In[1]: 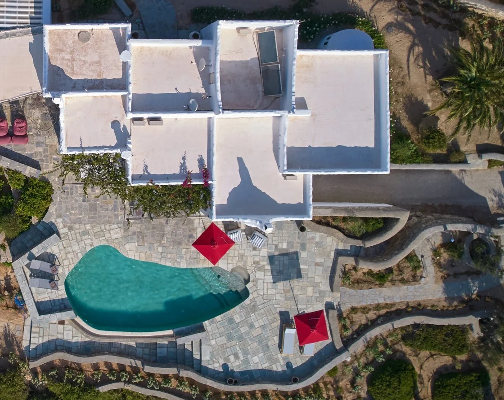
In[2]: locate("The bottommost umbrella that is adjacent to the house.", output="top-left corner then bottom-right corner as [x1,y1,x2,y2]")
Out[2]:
[192,222,235,265]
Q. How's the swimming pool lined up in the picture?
horizontally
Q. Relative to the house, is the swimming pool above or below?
below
